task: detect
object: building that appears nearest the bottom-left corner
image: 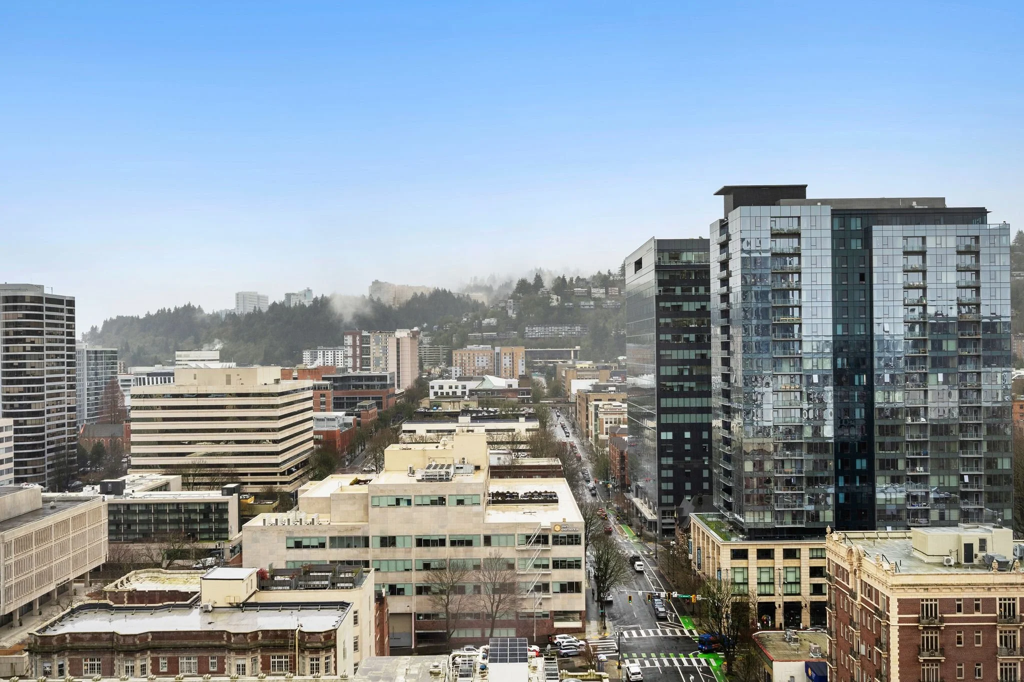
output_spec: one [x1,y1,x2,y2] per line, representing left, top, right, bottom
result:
[0,505,110,648]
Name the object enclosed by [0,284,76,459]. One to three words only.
building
